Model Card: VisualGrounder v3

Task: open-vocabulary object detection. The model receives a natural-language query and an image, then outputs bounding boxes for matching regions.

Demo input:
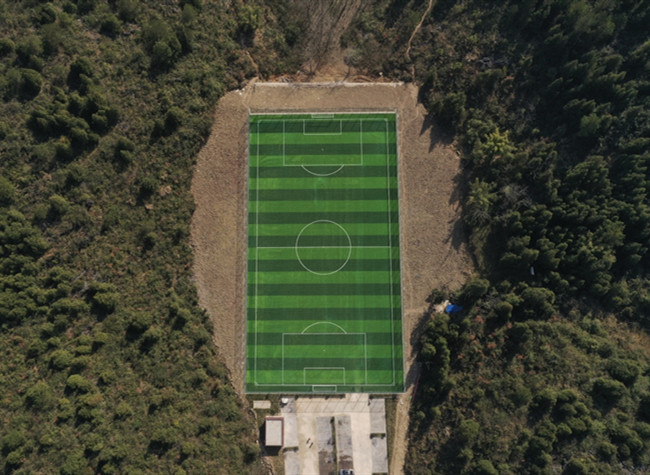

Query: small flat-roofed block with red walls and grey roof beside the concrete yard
[267,416,284,446]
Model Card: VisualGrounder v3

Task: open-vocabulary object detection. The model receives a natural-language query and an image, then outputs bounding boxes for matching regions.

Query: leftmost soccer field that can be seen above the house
[245,112,404,393]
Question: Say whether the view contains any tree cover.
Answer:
Yes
